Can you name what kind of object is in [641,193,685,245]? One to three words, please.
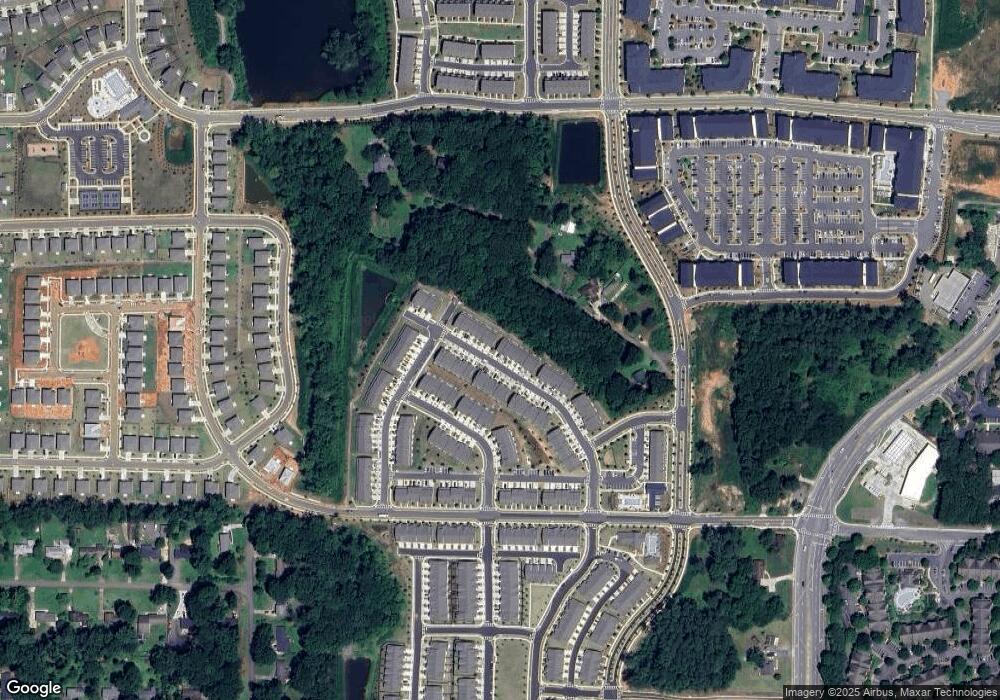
building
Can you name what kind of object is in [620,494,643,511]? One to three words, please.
swimming pool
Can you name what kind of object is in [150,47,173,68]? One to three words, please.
house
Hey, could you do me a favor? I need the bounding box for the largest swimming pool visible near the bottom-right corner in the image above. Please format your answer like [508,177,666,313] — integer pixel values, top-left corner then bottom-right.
[894,587,922,611]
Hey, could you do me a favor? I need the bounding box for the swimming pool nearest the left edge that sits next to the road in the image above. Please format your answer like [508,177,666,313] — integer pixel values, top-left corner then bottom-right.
[88,68,138,118]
